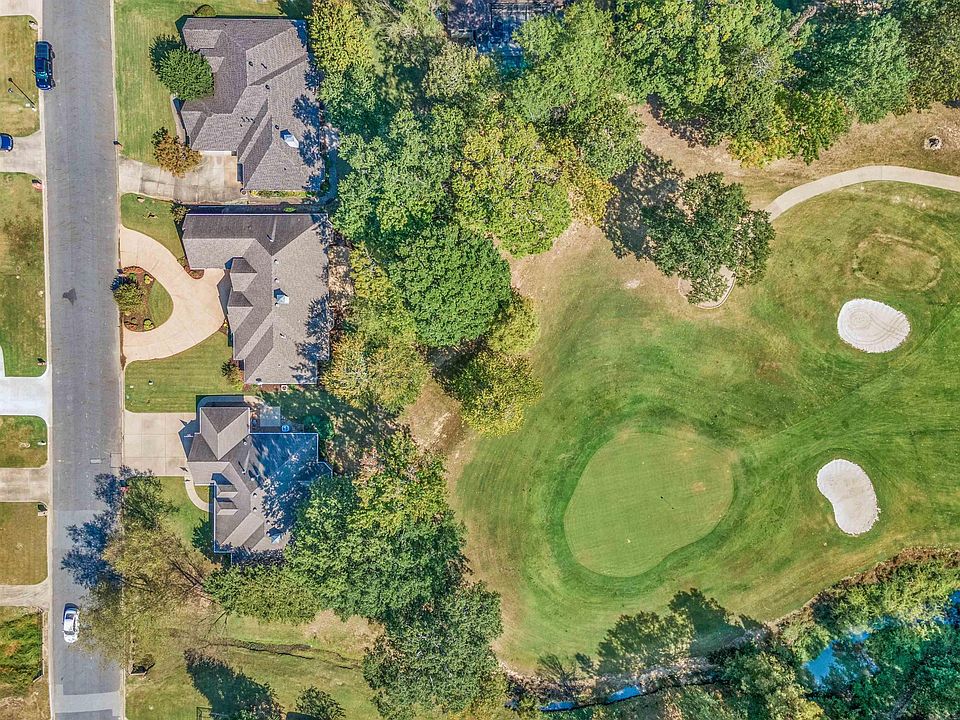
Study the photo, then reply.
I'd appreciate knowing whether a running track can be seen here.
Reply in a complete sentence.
No, the frame has no running track in it.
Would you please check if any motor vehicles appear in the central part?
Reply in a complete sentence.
No, there is no motor vehicle in the central part.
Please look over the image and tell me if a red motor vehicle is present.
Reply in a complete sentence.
No, this view has no red motor vehicle in it.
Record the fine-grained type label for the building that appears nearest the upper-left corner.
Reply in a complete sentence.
The building that appears nearest the upper-left corner appears to be a residential house.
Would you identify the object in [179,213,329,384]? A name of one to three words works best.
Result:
house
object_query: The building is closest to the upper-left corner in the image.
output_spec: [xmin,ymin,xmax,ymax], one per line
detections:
[182,17,322,191]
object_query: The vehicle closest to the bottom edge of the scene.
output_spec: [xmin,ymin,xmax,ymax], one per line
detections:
[58,607,79,645]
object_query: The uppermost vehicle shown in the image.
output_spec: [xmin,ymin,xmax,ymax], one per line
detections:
[30,38,52,89]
